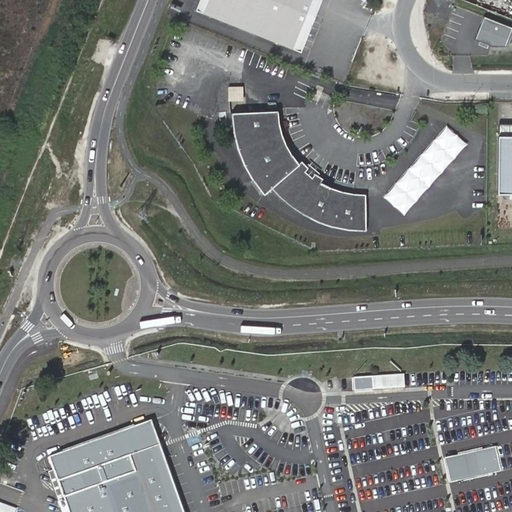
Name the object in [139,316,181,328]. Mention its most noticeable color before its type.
white vehicle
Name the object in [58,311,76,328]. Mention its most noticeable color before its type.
white vehicle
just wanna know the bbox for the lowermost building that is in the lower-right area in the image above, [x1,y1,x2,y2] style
[445,445,502,482]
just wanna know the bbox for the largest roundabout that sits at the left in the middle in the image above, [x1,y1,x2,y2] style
[38,215,164,346]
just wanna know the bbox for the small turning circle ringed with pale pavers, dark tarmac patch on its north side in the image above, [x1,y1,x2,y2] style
[280,375,326,421]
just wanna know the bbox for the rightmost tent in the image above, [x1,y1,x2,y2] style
[384,126,468,216]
